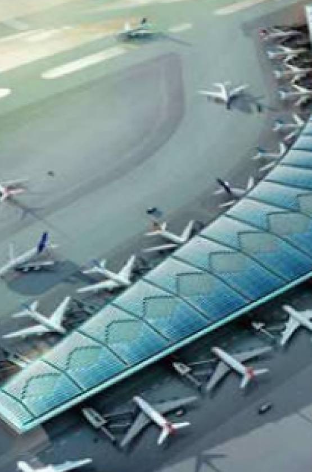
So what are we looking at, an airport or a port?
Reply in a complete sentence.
This image shows an airport.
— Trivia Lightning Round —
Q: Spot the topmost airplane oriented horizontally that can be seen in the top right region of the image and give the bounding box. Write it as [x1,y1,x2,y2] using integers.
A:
[262,25,300,41]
